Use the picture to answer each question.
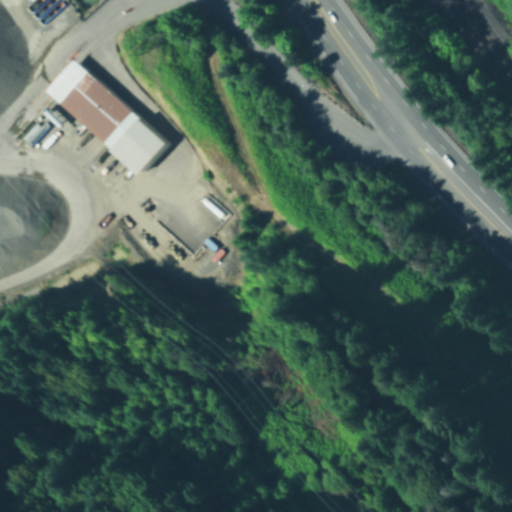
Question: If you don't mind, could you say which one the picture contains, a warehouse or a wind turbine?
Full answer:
I can see a warehouse in this picture.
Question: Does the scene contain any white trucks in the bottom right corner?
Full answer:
No, I can find no white truck in the bottom right corner.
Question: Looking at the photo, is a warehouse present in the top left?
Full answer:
Yes, a warehouse appears in the top left.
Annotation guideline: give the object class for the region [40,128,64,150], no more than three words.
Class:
truck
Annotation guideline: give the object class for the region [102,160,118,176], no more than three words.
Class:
vehicle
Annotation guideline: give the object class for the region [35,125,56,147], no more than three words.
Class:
truck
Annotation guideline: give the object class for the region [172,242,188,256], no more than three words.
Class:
work vehicle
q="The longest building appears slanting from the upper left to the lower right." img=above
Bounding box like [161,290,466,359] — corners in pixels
[46,60,167,174]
